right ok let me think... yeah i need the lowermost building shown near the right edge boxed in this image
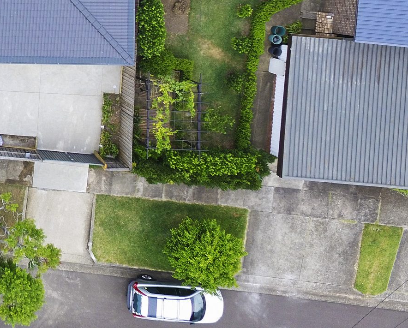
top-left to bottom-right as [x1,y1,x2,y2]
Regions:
[263,35,408,192]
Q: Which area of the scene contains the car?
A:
bottom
